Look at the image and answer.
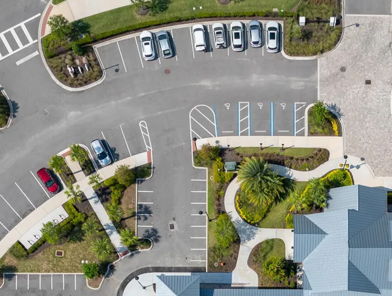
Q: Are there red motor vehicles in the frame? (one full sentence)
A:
Yes, looking at the shot, I can spot a red motor vehicle.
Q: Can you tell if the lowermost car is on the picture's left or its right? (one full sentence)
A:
The lowermost car sits on the left side.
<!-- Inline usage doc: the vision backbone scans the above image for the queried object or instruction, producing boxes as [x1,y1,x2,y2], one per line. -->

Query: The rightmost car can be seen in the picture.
[265,22,280,55]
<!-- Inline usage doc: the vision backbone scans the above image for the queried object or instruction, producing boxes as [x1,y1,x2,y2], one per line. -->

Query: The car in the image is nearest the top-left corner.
[139,31,156,62]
